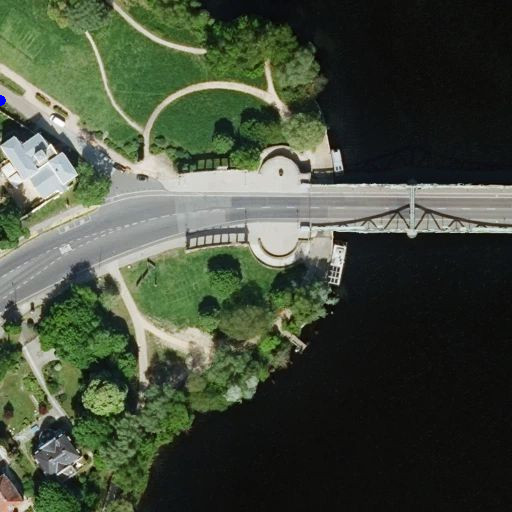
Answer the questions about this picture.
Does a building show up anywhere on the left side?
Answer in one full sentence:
Yes, a building can be seen on the left side.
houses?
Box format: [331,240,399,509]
[0,133,76,198]
[0,474,23,512]
[32,434,82,478]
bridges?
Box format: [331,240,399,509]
[310,178,512,238]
